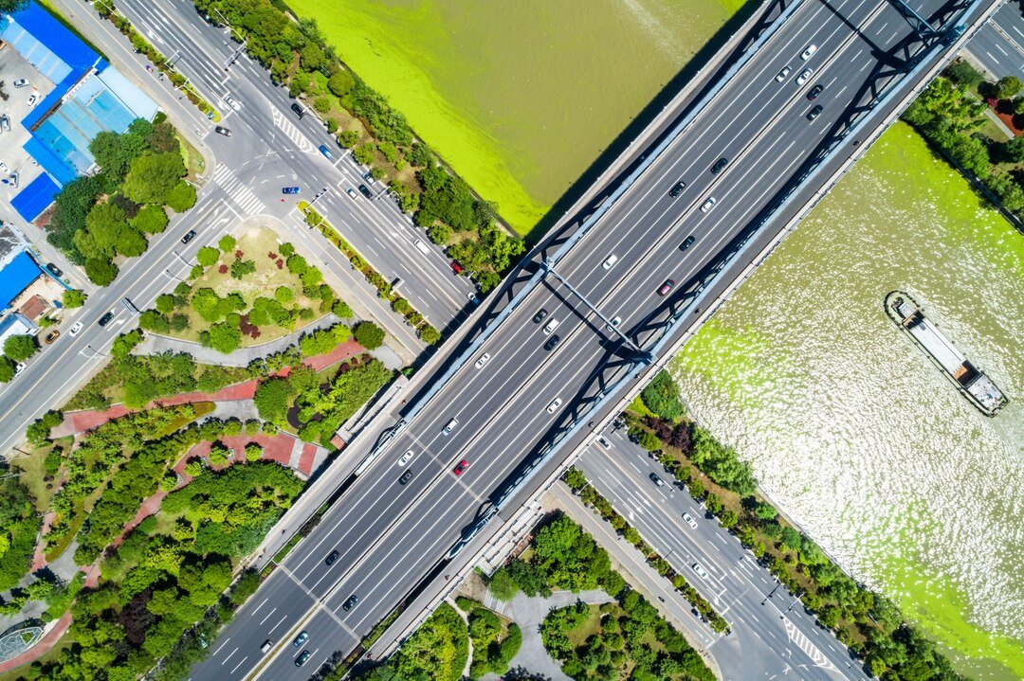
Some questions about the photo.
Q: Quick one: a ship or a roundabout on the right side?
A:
ship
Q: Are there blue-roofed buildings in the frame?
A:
Yes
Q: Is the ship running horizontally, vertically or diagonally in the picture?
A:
diagonally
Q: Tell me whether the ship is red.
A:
No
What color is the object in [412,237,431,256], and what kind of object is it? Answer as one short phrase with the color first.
white vehicle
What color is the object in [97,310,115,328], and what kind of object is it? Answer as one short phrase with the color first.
black car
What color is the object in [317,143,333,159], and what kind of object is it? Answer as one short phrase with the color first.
blue car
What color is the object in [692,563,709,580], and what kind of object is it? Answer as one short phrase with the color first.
white car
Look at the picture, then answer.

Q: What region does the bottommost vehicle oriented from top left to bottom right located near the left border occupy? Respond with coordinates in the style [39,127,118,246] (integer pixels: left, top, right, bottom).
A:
[46,261,64,279]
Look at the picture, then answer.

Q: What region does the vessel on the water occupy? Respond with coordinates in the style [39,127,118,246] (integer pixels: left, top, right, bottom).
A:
[880,290,1010,417]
